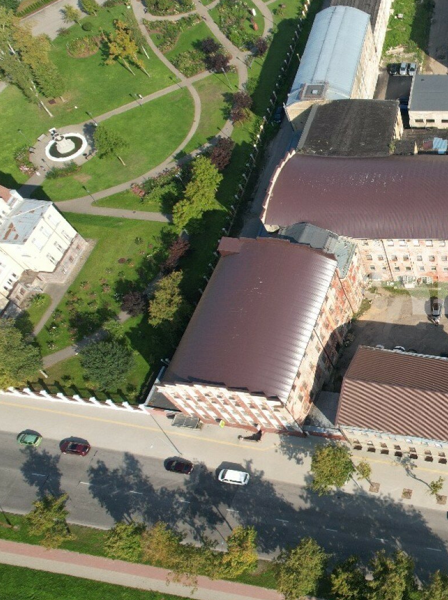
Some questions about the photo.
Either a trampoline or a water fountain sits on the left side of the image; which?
water fountain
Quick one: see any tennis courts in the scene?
No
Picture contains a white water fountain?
Yes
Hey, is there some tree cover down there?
Yes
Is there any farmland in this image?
No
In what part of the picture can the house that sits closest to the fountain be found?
left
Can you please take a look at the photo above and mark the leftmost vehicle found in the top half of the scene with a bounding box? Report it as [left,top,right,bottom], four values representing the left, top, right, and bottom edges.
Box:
[272,105,285,123]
